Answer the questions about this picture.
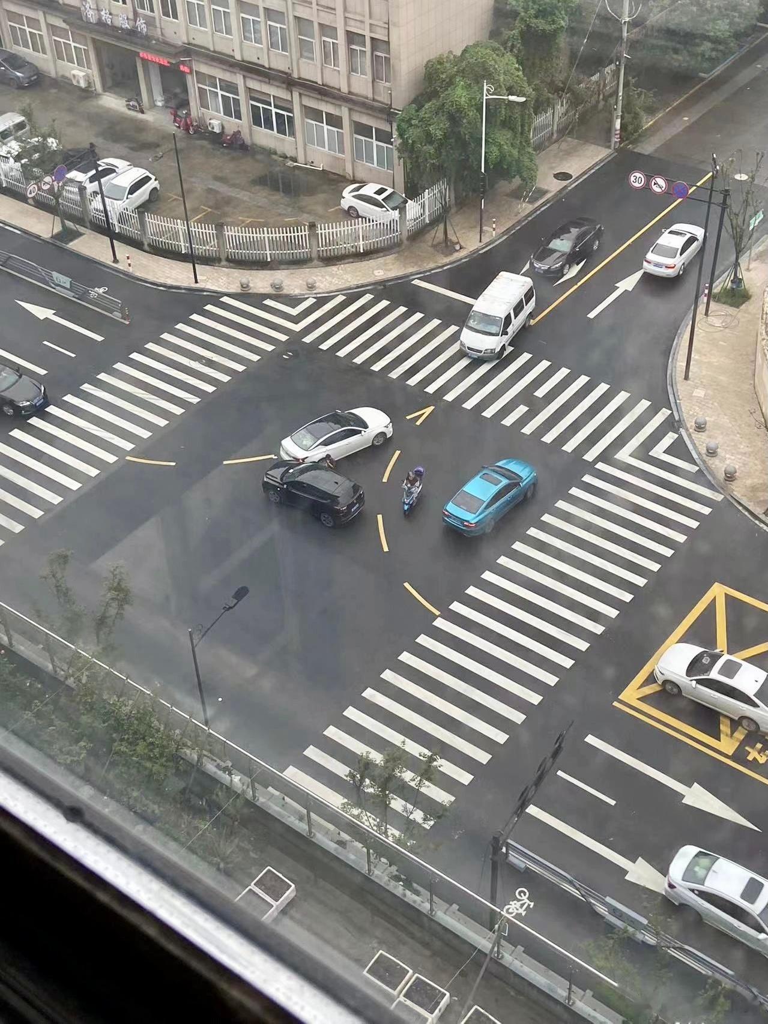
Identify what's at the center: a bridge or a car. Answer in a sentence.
It is a car that can be seen at the center.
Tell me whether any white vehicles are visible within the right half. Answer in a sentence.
Yes, a white vehicle appears within the right half.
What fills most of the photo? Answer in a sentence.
What you mostly see from above here is paved ground.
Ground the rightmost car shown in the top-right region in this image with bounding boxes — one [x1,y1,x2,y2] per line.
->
[645,224,704,276]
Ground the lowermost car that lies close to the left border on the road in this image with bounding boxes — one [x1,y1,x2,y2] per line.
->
[0,358,48,415]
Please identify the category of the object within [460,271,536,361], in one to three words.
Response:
vehicle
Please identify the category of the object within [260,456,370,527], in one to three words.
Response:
car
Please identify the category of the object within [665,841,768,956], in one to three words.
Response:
car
